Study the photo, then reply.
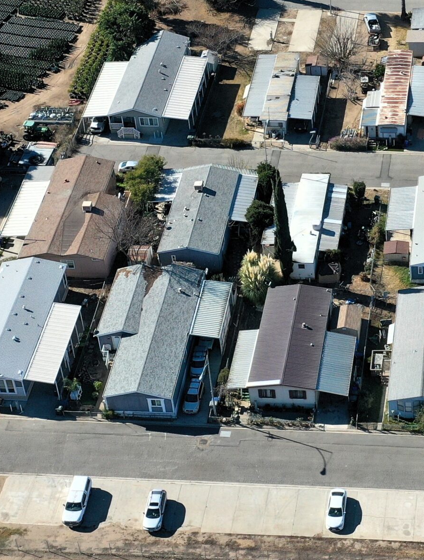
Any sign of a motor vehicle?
Yes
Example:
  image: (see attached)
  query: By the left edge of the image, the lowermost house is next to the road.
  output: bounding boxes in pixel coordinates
[0,257,83,399]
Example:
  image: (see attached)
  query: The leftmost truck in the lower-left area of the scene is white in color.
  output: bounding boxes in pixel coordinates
[63,472,92,524]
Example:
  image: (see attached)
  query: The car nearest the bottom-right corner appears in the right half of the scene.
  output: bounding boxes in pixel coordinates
[325,488,348,530]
